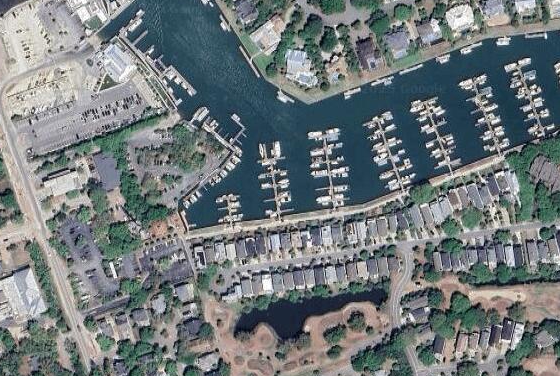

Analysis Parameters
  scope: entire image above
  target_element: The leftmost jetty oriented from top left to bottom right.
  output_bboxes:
[114,15,193,99]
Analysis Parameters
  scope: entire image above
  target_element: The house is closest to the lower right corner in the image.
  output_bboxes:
[533,330,556,354]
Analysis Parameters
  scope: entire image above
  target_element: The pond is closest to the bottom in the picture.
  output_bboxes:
[235,288,388,340]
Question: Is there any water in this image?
Yes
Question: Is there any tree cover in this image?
Yes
